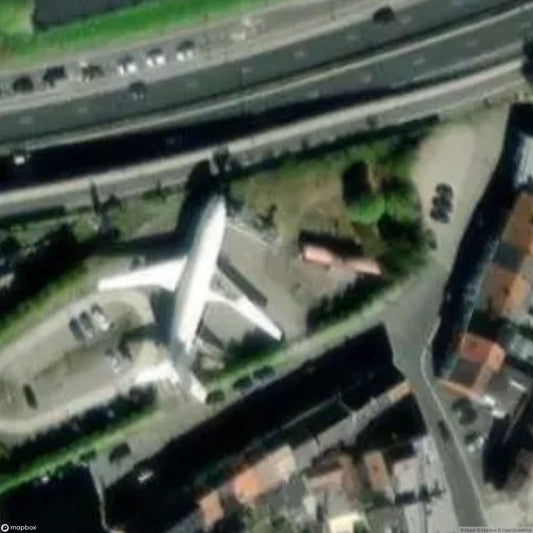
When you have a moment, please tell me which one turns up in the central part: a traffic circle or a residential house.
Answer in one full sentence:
There is a residential house in the central part.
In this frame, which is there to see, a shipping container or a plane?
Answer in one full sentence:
This aerial view contains a plane.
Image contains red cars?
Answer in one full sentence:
No, there is no red car in the image.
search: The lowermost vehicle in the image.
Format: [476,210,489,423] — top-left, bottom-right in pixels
[133,466,156,484]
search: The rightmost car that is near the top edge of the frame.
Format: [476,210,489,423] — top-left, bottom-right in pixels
[372,9,398,24]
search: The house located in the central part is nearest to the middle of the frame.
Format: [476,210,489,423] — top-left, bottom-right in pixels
[298,235,335,264]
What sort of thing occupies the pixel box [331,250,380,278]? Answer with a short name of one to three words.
house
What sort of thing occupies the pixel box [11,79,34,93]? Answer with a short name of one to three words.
vehicle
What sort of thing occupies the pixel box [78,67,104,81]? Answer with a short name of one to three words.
car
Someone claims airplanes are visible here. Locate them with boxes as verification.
[98,196,281,403]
